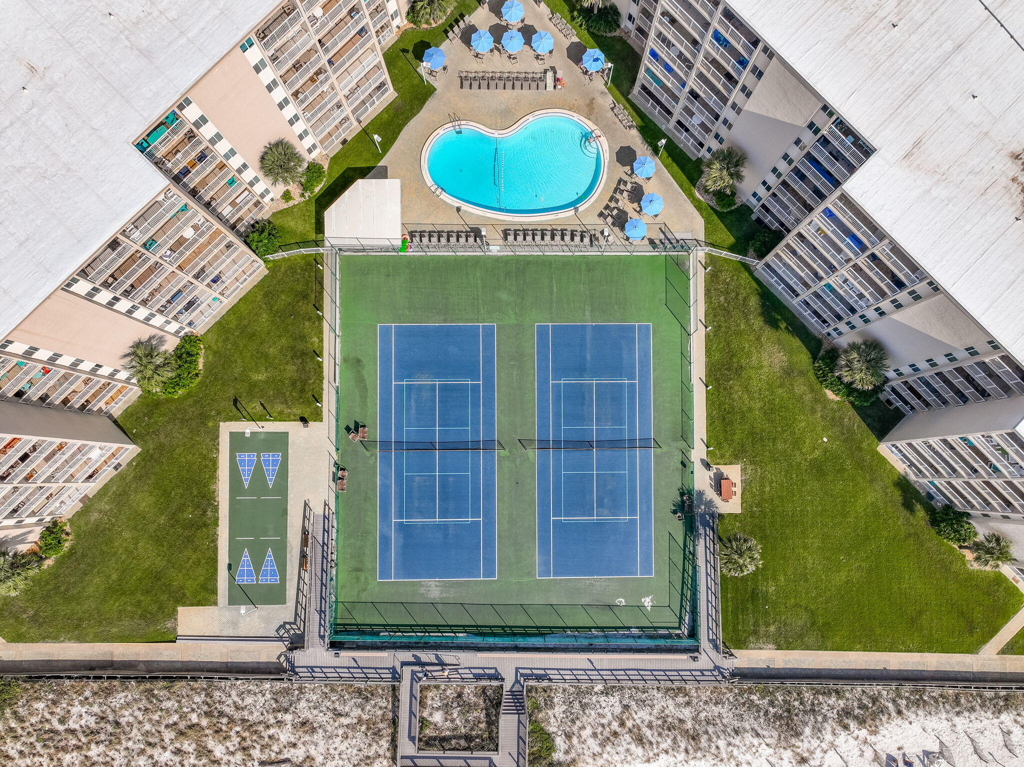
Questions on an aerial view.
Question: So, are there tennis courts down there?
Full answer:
Yes, this view includes a tennis court.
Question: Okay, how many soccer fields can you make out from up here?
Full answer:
There are no soccer fields in the image.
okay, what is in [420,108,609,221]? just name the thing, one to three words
swimming pool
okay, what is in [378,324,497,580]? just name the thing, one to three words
tennis court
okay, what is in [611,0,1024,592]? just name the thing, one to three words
building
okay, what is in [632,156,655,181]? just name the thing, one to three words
umbrella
